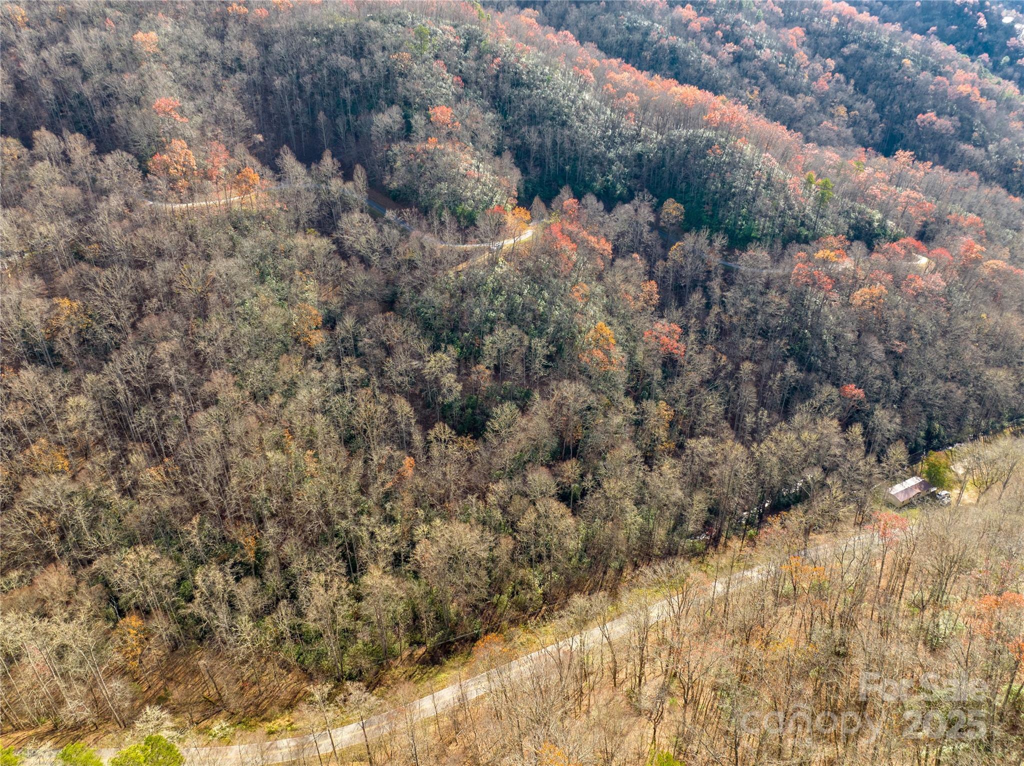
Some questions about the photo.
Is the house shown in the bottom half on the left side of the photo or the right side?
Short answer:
right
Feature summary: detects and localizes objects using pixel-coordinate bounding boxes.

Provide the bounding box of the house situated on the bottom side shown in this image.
[884,478,933,508]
